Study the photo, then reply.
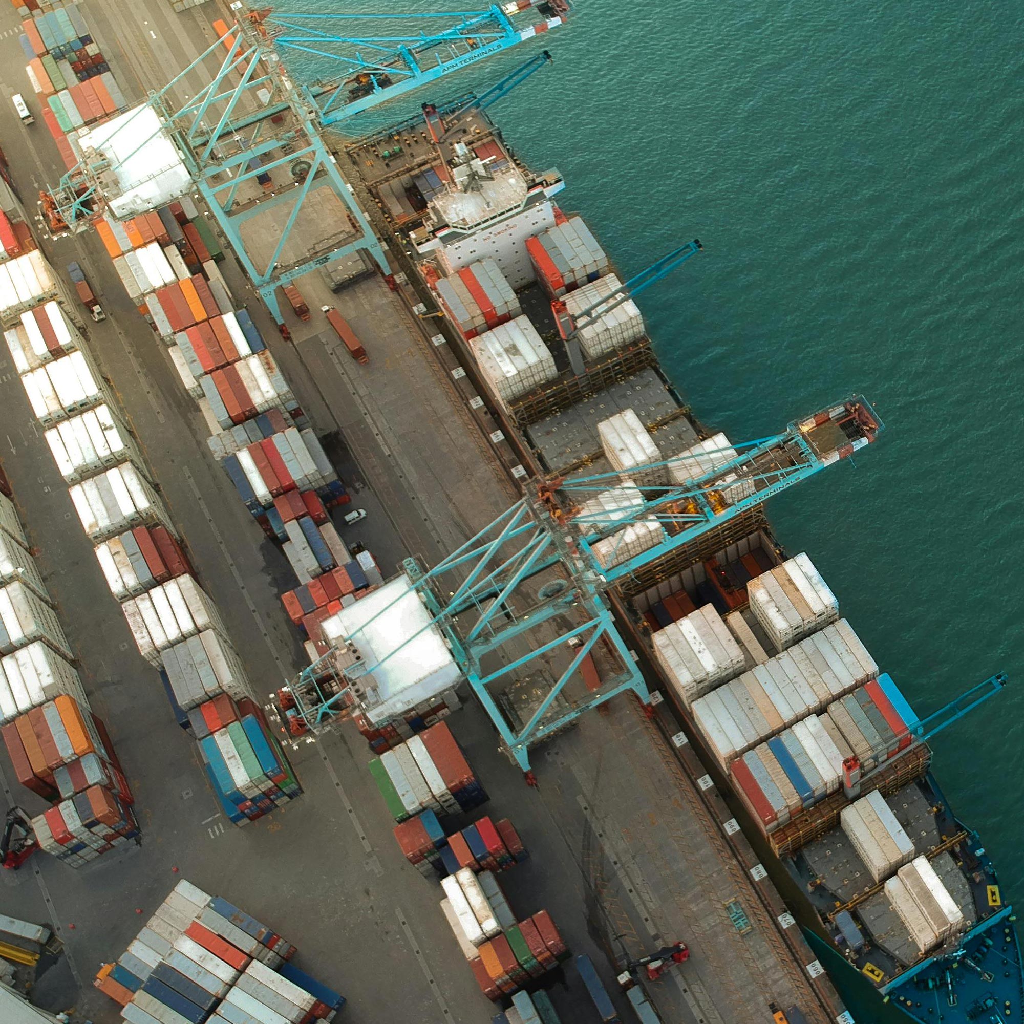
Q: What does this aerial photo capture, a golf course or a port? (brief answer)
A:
port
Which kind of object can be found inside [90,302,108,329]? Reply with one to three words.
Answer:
vehicle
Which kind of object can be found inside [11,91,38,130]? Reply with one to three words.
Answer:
truck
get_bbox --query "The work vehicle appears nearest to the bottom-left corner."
[0,790,42,881]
